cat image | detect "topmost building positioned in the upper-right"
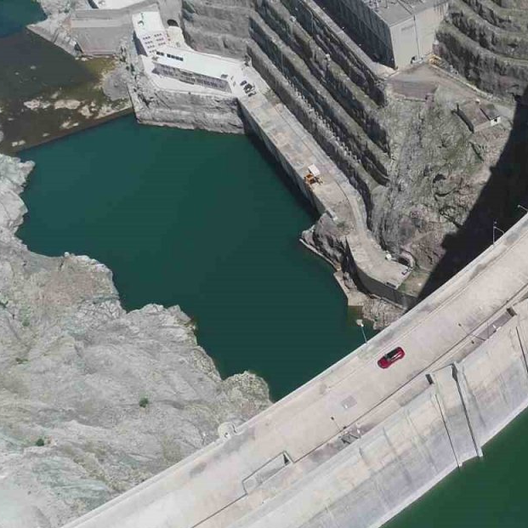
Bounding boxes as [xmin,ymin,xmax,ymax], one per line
[333,0,452,71]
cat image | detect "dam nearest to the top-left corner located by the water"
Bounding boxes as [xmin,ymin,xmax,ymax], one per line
[17,112,130,156]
